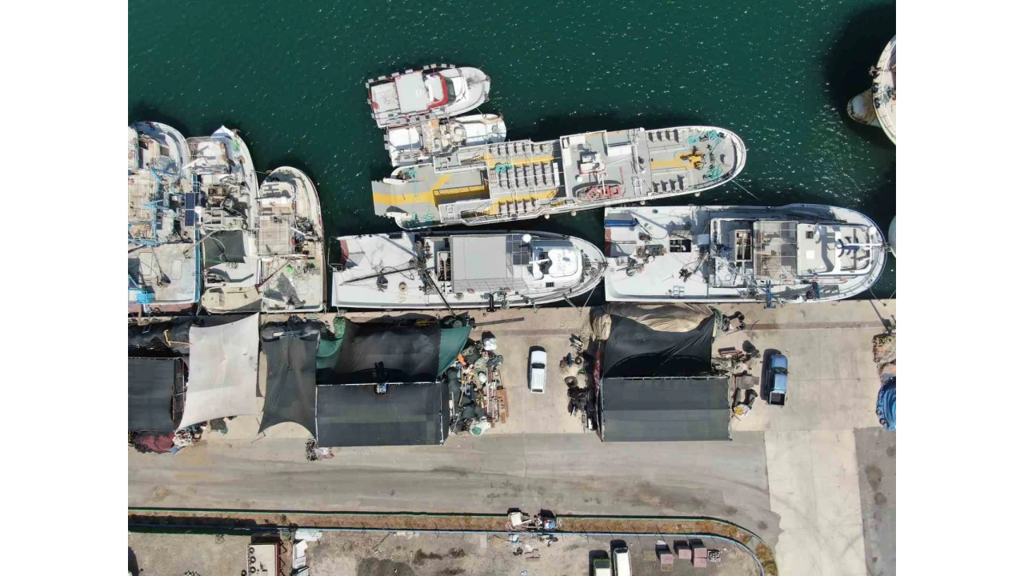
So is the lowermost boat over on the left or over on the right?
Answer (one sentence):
The lowermost boat appears in the left half of the scene.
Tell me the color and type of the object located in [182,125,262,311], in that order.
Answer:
white boat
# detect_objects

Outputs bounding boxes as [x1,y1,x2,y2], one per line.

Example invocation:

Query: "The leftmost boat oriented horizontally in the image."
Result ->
[202,284,266,313]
